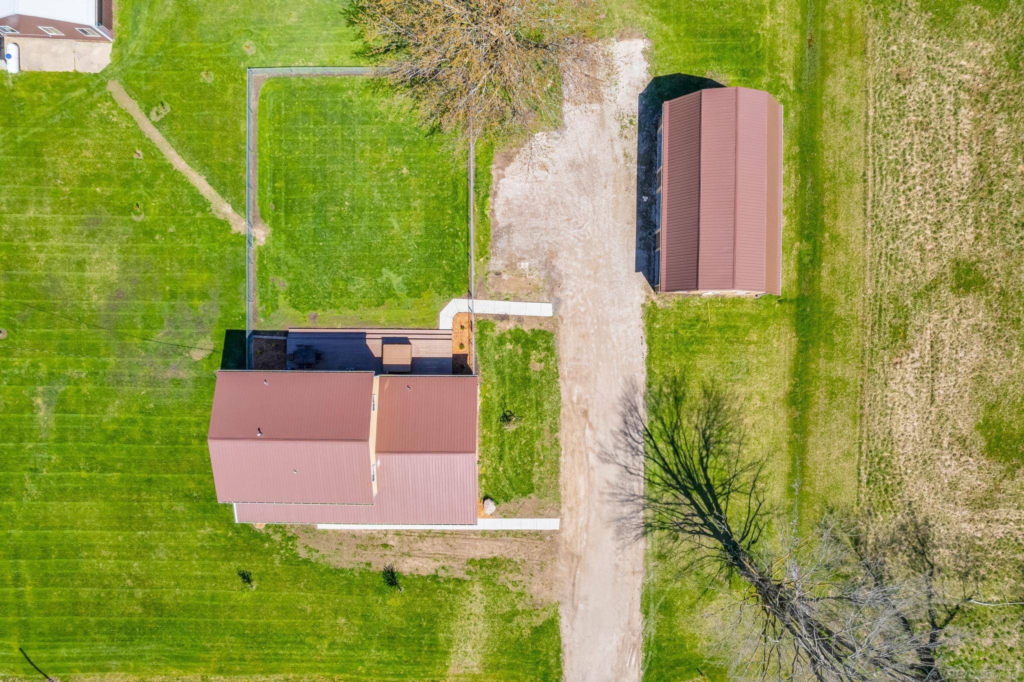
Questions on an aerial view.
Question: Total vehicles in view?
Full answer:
Not a single vehicle can be seen.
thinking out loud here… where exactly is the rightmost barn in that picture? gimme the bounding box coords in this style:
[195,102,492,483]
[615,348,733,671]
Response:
[652,85,784,296]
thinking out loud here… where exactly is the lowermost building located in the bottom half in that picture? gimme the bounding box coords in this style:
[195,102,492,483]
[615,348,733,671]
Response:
[207,367,479,527]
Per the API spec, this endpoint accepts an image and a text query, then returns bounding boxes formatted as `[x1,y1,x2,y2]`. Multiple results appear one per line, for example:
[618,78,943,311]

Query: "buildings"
[652,85,784,296]
[0,0,113,41]
[207,367,479,527]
